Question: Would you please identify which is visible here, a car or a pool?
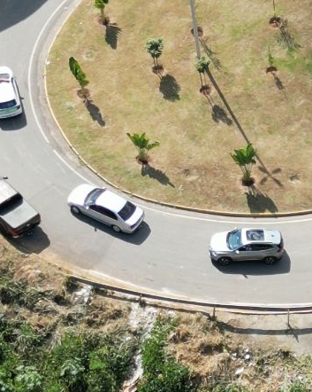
car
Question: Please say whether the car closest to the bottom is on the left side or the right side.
right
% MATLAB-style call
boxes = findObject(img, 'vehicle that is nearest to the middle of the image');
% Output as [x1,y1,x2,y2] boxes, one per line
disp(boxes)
[63,182,143,238]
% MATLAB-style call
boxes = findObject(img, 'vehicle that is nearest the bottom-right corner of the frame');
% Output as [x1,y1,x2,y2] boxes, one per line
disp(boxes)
[205,224,288,267]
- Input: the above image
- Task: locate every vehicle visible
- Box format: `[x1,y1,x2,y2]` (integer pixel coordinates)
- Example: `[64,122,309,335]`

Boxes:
[63,182,143,238]
[0,178,40,245]
[205,224,288,267]
[0,70,22,128]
